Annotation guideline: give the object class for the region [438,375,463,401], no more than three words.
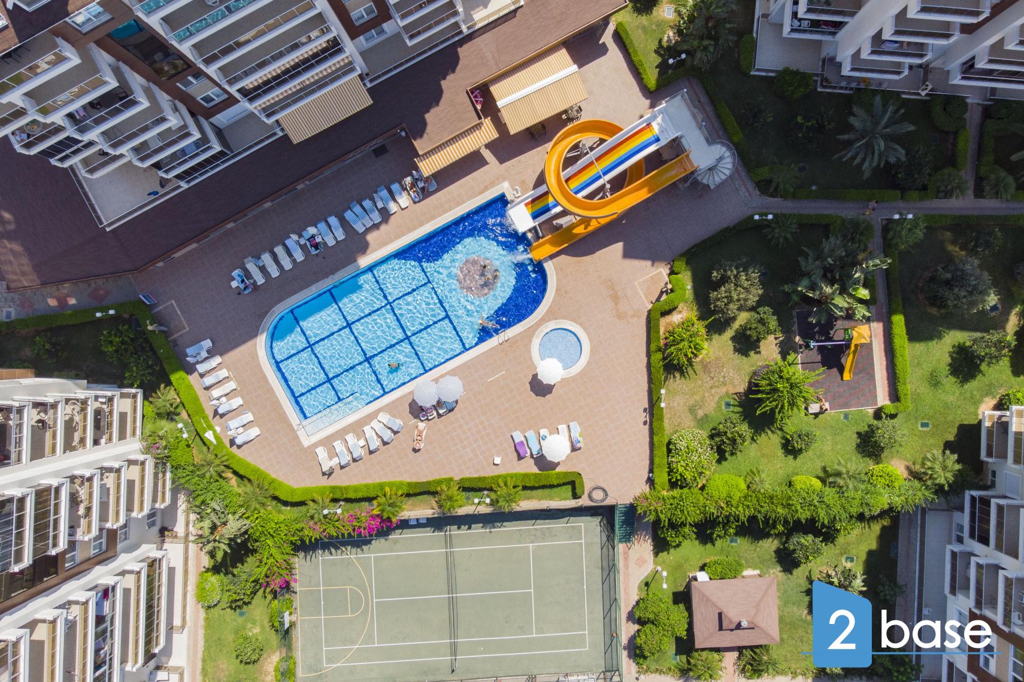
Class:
umbrella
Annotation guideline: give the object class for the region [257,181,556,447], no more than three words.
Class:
swimming pool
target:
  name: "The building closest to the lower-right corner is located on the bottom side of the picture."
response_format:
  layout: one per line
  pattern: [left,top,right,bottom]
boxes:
[901,406,1024,682]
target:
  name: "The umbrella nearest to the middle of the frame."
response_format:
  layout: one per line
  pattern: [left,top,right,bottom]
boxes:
[537,358,563,383]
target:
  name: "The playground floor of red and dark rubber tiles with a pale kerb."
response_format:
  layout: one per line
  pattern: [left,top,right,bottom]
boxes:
[795,307,879,414]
